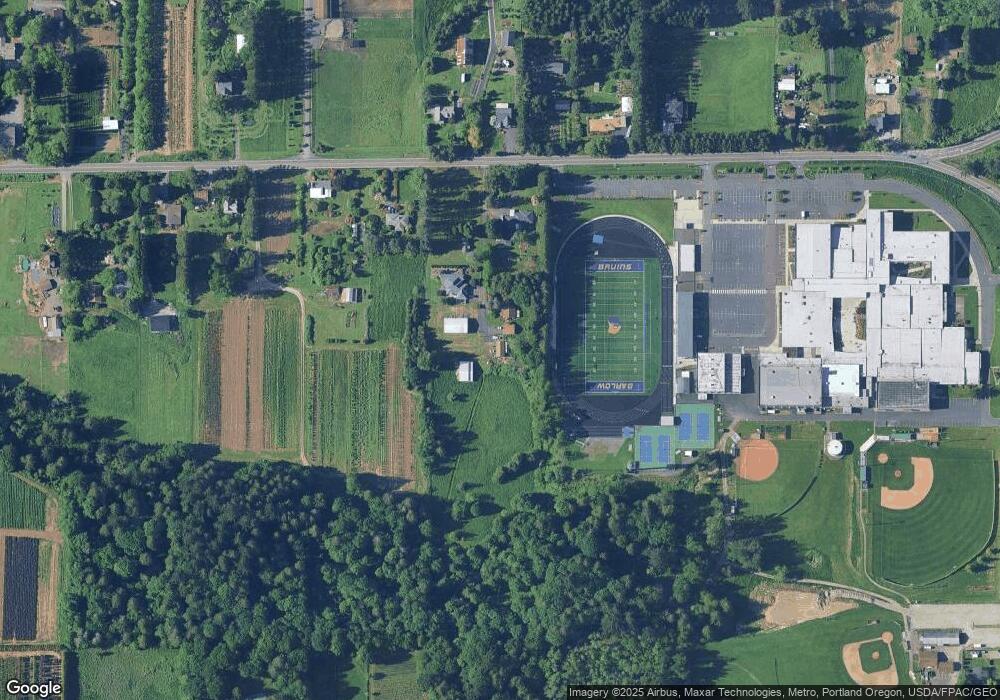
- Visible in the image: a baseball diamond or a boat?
baseball diamond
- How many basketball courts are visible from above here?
zero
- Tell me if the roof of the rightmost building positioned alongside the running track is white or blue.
white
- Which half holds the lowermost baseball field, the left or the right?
right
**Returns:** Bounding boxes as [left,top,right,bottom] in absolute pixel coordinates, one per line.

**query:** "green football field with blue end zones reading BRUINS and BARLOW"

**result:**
[566,258,661,394]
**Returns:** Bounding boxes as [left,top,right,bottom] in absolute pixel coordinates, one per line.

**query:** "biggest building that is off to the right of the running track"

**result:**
[760,209,980,414]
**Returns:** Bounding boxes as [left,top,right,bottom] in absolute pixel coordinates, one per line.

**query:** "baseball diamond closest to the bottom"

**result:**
[843,632,898,700]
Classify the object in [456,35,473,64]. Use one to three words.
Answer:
barn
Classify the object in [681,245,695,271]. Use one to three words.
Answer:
building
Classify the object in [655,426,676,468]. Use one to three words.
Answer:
tennis court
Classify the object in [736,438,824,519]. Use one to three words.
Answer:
baseball field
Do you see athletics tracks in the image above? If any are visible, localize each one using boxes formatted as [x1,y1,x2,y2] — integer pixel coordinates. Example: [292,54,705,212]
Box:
[553,214,673,437]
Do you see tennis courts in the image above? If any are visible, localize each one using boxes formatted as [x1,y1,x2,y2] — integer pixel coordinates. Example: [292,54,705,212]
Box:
[635,426,655,468]
[694,403,714,448]
[655,426,676,468]
[676,403,694,448]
